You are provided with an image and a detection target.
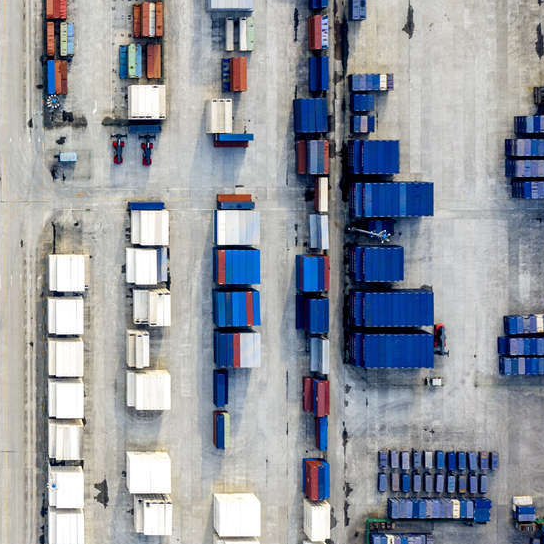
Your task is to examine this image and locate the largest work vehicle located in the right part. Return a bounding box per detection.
[434,322,452,356]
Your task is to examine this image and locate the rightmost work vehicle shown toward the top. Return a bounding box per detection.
[139,133,156,166]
